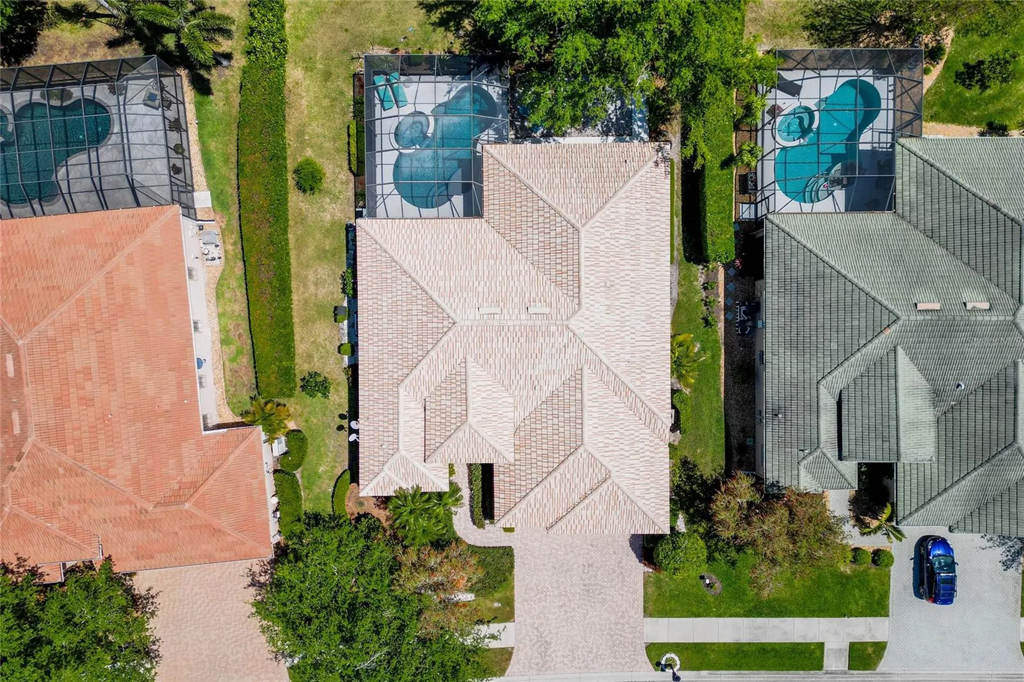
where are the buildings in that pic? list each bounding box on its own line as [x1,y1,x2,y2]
[0,202,277,588]
[355,140,673,536]
[754,136,1024,539]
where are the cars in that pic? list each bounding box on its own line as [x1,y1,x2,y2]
[916,533,959,606]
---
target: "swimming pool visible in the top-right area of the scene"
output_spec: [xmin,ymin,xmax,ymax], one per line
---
[770,74,886,207]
